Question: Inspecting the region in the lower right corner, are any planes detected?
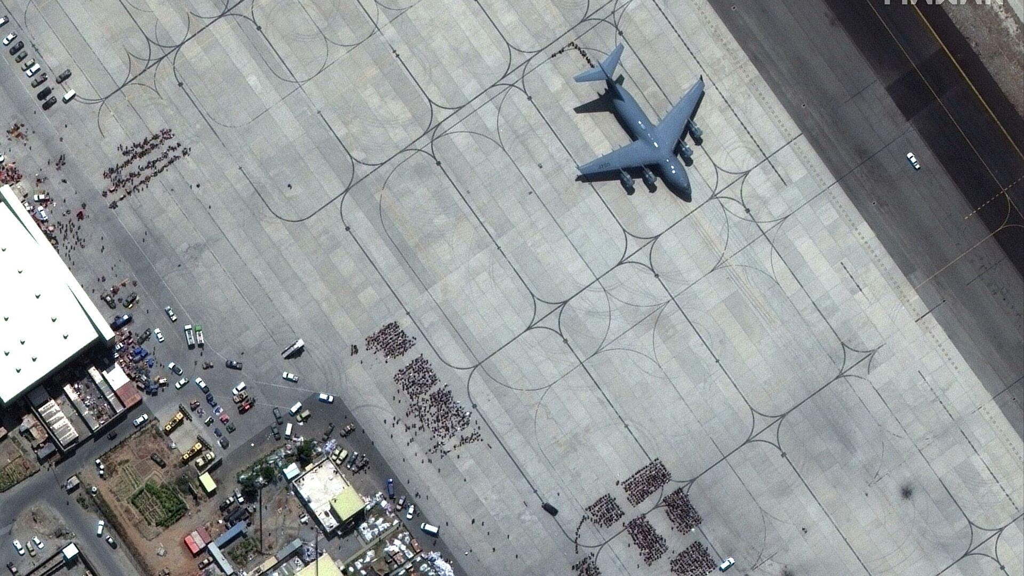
No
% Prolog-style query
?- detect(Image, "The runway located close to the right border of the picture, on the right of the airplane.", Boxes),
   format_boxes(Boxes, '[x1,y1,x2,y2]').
[823,0,1024,281]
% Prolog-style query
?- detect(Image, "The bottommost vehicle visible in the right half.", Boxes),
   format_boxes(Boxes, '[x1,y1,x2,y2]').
[719,558,735,571]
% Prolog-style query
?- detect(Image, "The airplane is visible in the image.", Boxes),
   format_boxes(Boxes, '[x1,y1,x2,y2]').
[573,42,706,197]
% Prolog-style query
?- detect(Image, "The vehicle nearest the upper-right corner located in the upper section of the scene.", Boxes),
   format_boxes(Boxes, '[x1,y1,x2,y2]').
[908,152,920,169]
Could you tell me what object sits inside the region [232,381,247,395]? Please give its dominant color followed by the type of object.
white car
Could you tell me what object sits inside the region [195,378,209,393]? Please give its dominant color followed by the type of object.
white vehicle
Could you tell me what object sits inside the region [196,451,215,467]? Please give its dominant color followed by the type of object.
white work vehicle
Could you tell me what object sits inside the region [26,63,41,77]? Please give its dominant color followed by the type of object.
white car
